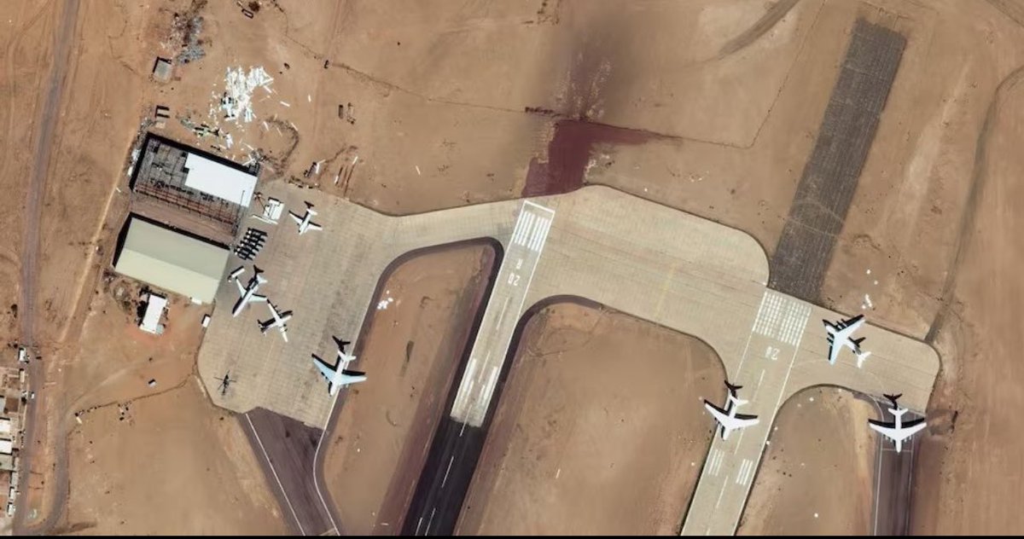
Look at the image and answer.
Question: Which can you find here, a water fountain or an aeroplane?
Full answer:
It is an aeroplane that can be seen here.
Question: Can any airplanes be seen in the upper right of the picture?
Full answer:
No, no airplane appears in the upper right of the picture.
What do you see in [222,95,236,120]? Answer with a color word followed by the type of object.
white airplane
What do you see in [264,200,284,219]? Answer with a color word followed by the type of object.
white airplane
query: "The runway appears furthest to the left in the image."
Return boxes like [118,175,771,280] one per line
[398,200,556,539]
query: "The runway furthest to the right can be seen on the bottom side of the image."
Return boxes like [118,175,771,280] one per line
[680,291,812,539]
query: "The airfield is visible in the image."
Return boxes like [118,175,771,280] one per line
[198,18,940,539]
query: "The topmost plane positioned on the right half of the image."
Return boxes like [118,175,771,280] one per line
[826,322,872,366]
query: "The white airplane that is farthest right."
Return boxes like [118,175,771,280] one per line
[870,408,927,453]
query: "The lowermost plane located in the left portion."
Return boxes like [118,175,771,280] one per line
[313,350,367,394]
